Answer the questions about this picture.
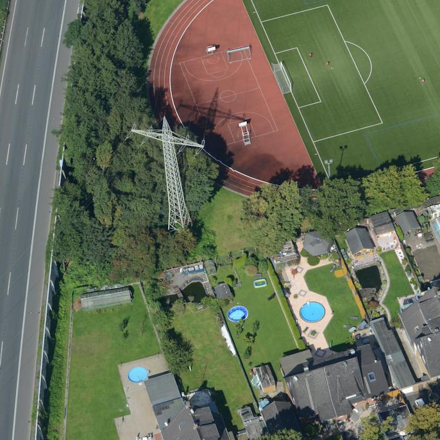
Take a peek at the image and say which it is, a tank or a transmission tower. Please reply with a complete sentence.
It is a transmission tower that can be seen here.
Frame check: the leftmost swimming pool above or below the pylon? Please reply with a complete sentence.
You can see the leftmost swimming pool below the pylon in the frame.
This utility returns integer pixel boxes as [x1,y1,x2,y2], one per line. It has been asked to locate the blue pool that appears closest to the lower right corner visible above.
[299,301,325,322]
